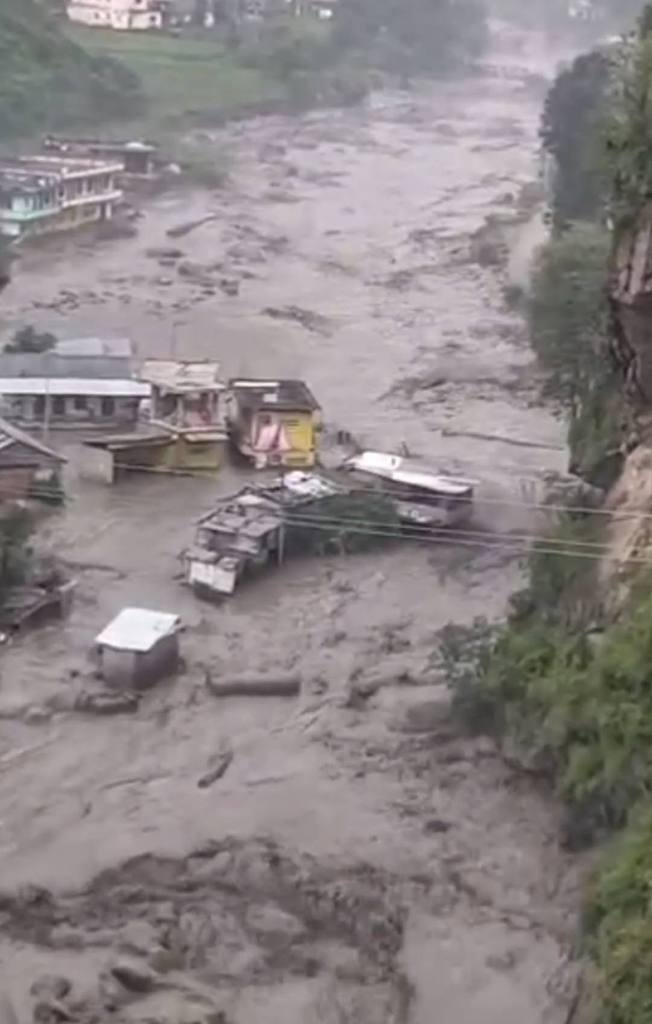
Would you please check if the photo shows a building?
Yes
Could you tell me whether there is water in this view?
Yes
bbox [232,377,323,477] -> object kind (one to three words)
house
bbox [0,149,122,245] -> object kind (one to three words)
building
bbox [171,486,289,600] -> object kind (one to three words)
shed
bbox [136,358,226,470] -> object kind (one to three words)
house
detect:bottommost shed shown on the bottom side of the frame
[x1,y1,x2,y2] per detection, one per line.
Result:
[95,609,186,692]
